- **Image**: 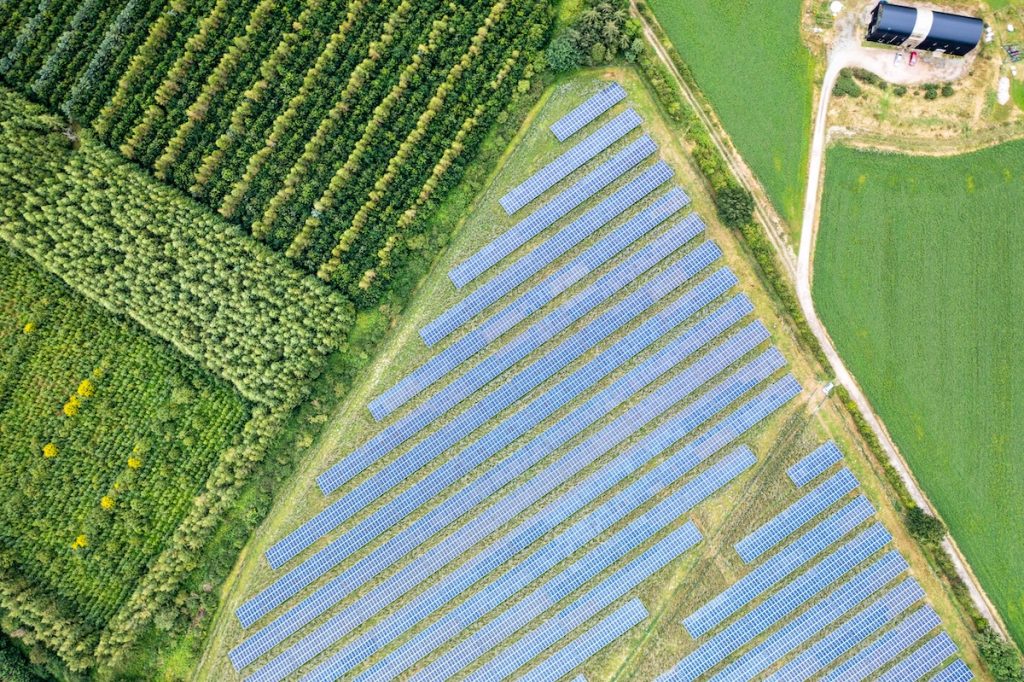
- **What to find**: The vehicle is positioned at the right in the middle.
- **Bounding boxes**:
[822,382,835,395]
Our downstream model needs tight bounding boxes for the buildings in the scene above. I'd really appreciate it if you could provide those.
[867,2,986,57]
